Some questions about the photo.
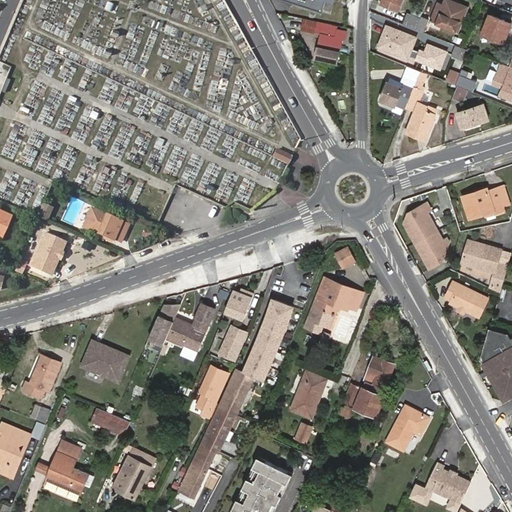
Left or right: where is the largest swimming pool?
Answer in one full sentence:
The largest swimming pool sits on the left side.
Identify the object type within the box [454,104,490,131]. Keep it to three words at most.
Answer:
house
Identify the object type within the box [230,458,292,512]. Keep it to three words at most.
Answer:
building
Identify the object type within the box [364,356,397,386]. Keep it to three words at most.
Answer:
house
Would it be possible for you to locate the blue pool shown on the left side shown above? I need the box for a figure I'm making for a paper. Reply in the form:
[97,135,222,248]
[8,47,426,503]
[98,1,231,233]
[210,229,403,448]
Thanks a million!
[63,196,85,226]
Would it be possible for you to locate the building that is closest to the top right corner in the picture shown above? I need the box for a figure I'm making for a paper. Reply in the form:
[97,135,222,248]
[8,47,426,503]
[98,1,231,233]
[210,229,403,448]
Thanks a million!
[480,15,512,46]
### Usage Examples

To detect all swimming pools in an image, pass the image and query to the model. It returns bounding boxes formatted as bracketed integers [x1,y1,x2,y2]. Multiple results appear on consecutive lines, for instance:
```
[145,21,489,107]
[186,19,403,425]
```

[481,82,500,96]
[63,196,85,226]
